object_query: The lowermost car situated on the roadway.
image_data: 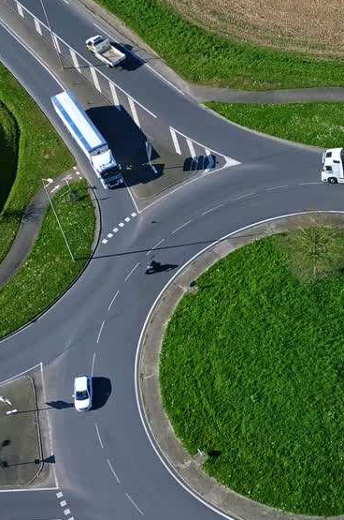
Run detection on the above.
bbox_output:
[73,375,94,412]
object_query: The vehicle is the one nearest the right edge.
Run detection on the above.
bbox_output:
[321,148,344,184]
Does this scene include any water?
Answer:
No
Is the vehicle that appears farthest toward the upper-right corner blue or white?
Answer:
white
